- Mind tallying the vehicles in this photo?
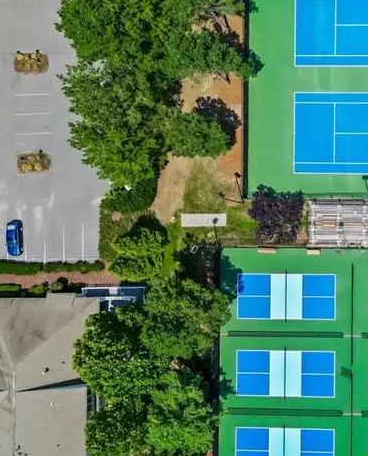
1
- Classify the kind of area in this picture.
sports ground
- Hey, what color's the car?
blue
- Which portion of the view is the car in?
left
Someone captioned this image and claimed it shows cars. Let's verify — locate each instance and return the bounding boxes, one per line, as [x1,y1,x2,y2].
[7,221,27,256]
